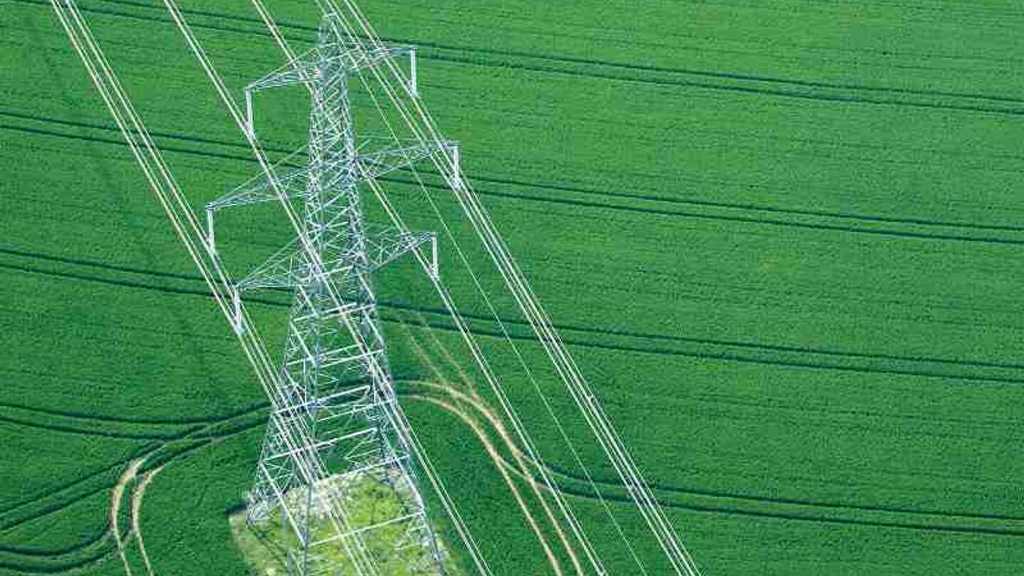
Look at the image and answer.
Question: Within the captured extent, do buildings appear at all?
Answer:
No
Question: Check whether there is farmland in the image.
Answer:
Yes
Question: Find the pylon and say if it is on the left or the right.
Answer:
left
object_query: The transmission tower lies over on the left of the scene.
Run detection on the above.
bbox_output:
[208,14,458,576]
